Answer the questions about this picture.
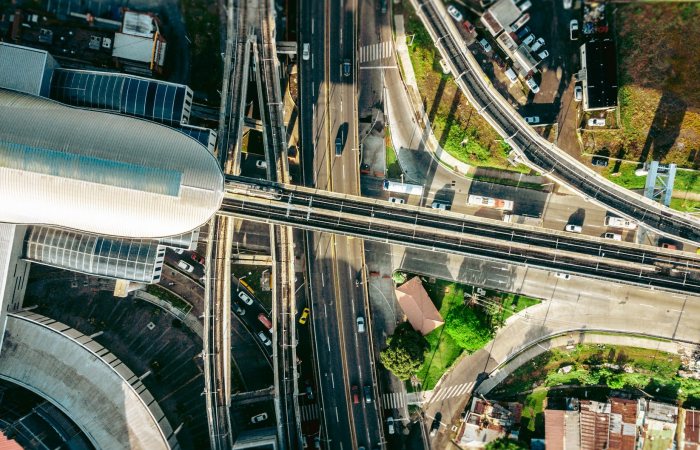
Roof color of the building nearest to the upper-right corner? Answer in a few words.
black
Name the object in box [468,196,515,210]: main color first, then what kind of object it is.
white vehicle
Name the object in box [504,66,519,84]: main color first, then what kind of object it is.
white vehicle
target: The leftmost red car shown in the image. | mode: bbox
[190,252,205,265]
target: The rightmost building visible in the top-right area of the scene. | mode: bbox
[574,38,617,111]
